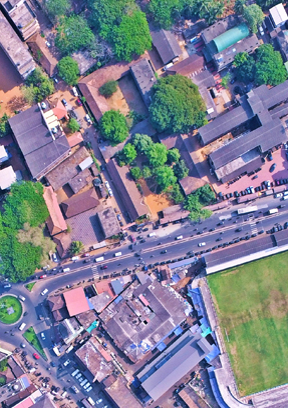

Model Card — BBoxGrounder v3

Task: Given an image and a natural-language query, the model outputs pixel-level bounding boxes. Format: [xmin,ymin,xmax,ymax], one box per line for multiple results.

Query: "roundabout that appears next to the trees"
[0,279,39,338]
